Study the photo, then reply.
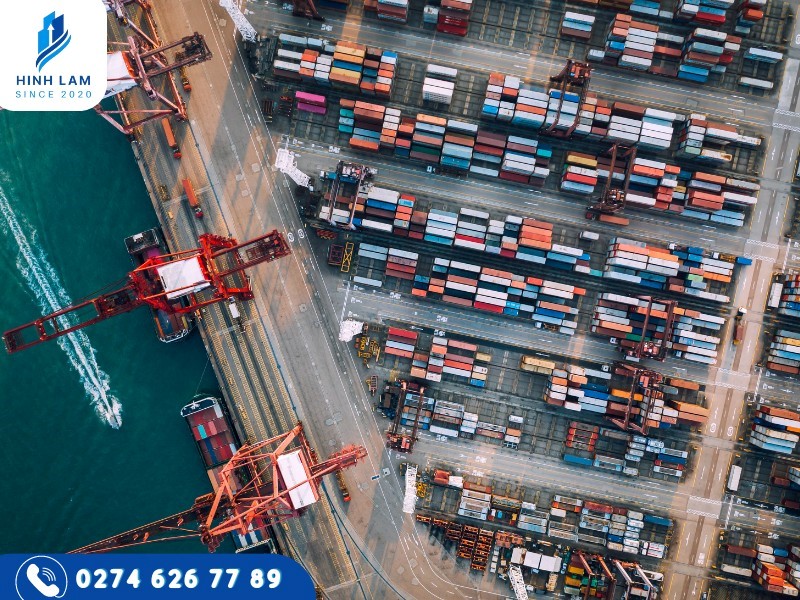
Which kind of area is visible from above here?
port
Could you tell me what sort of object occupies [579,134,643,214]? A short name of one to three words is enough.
container crane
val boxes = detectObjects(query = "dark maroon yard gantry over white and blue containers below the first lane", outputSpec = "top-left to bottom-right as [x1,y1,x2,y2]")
[535,55,595,141]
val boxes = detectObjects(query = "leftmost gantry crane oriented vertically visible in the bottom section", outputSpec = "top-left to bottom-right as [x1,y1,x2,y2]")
[384,374,429,453]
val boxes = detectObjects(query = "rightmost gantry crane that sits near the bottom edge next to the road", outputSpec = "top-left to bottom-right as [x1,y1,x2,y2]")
[606,553,660,600]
